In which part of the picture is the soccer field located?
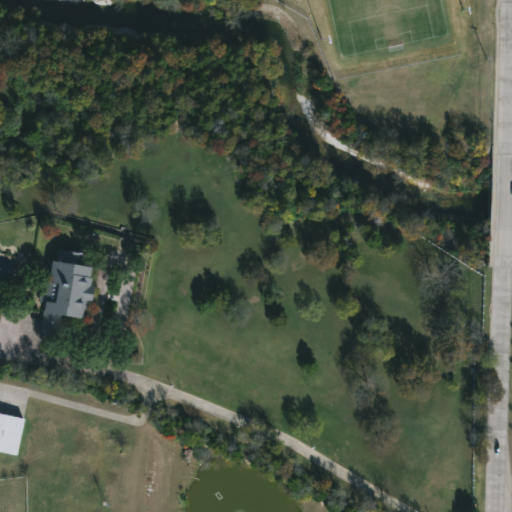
top right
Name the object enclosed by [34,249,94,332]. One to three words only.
house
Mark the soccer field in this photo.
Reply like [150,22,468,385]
[328,0,448,58]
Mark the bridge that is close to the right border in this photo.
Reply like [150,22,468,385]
[490,128,512,268]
